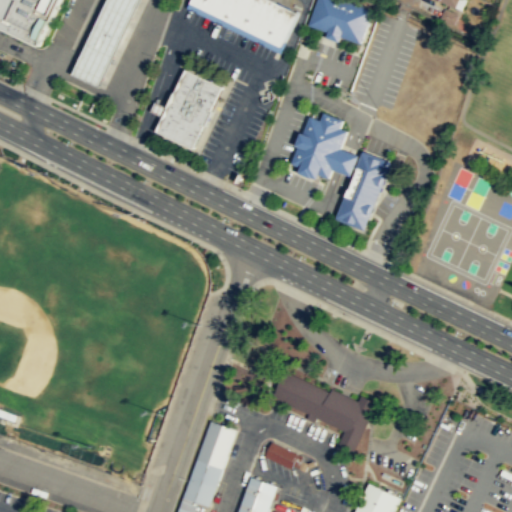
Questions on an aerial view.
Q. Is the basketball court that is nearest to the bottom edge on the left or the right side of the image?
right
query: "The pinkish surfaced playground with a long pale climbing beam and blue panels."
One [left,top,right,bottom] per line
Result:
[470,140,512,177]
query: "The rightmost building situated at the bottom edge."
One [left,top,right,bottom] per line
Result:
[356,484,404,512]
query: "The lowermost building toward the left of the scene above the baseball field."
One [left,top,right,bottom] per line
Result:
[155,70,227,152]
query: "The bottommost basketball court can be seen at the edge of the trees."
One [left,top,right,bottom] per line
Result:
[412,160,512,310]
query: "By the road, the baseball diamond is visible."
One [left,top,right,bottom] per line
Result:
[0,148,210,486]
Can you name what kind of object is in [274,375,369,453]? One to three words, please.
building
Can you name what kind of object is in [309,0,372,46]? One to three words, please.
building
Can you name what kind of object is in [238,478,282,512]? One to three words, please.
shed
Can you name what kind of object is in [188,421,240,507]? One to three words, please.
shed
